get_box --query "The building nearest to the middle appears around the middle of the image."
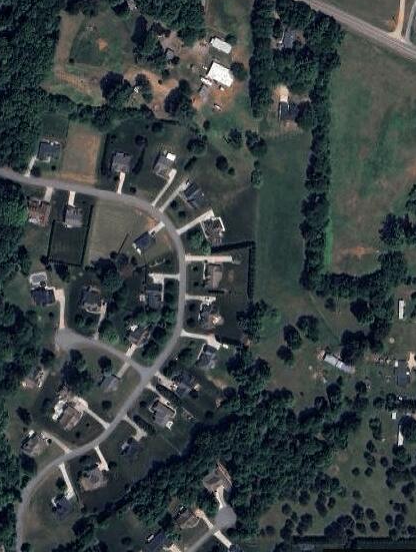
[204,261,223,285]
